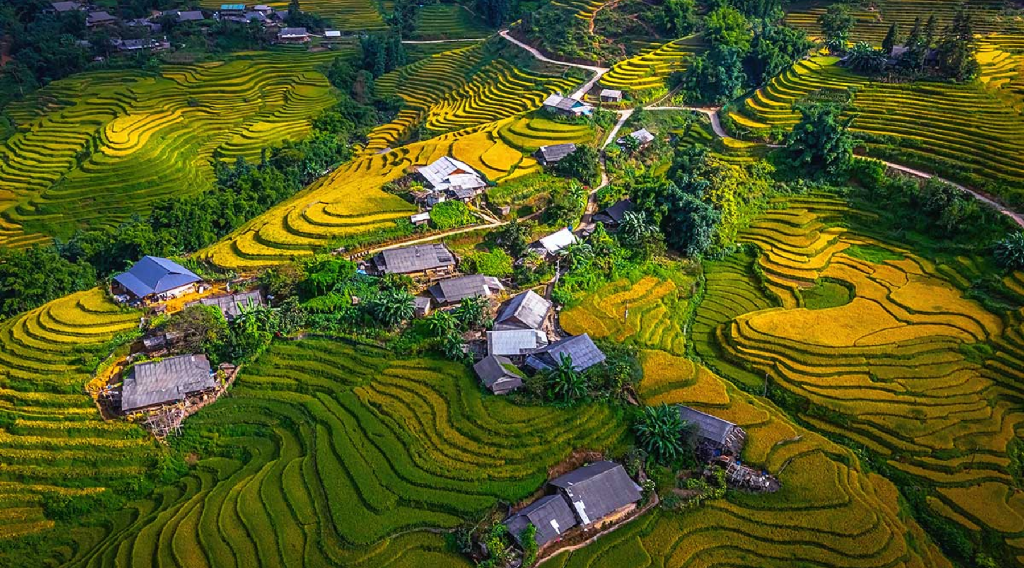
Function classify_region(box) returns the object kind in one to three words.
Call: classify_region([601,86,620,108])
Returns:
shed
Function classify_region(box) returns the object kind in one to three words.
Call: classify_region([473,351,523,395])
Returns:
shed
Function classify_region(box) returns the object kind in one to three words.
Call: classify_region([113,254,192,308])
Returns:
house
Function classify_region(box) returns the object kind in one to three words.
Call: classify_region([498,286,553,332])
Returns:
house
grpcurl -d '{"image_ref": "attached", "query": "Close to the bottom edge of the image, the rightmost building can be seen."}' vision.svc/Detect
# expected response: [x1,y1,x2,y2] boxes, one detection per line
[553,458,643,540]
